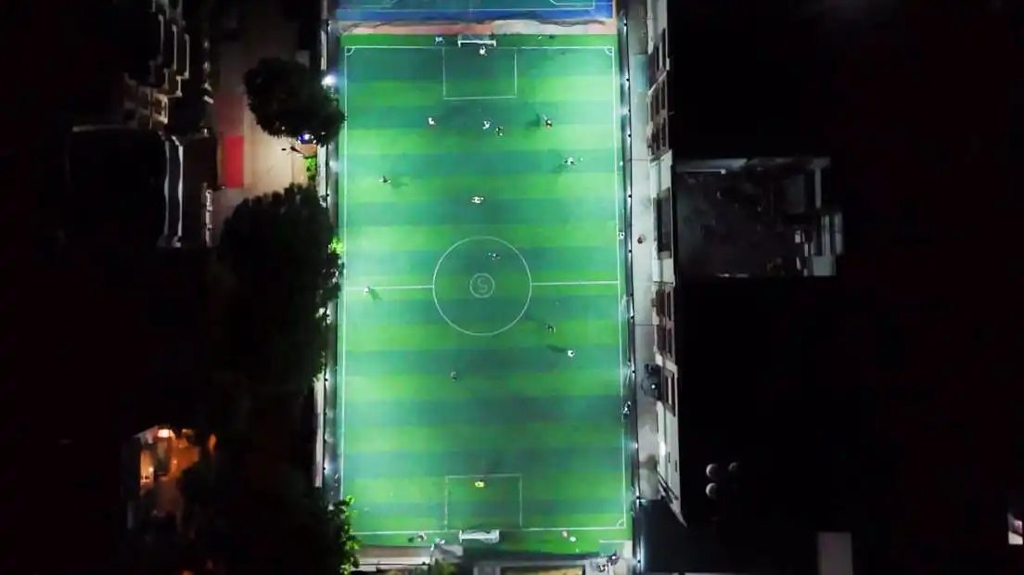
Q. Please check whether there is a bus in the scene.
No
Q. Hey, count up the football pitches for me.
one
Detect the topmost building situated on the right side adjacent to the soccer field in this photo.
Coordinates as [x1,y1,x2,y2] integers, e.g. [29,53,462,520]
[646,0,1024,527]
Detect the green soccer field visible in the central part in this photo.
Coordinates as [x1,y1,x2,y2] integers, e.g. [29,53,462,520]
[338,34,631,549]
